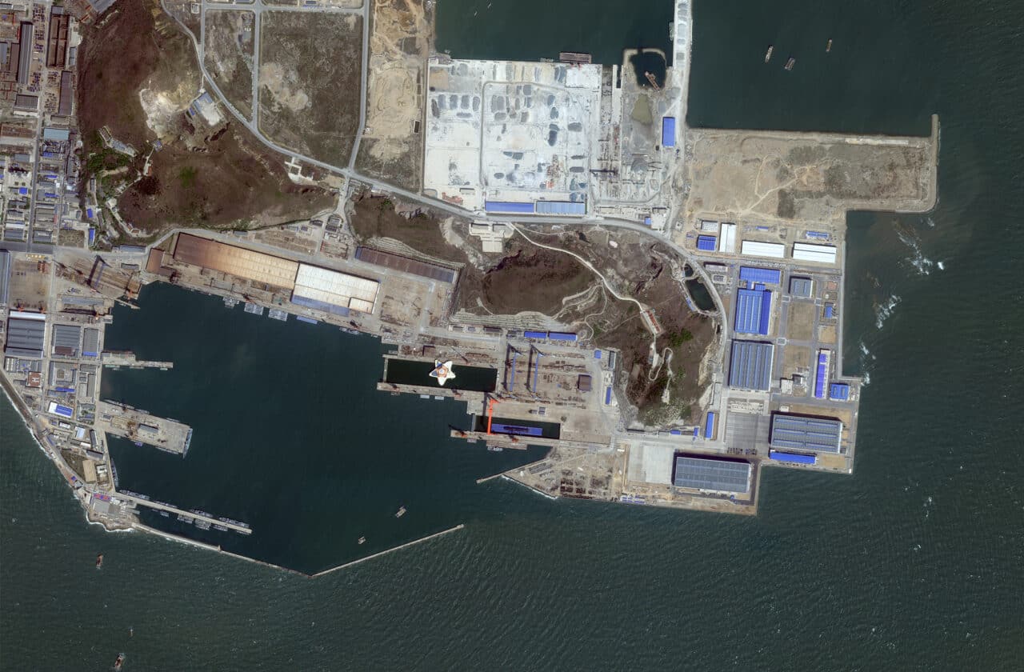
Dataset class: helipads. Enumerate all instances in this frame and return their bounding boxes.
[27,372,42,387]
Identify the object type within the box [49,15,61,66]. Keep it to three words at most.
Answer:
shed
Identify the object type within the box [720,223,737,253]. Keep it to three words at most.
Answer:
building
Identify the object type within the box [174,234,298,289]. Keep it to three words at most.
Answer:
building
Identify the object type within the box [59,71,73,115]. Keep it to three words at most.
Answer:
shed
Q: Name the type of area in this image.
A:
port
